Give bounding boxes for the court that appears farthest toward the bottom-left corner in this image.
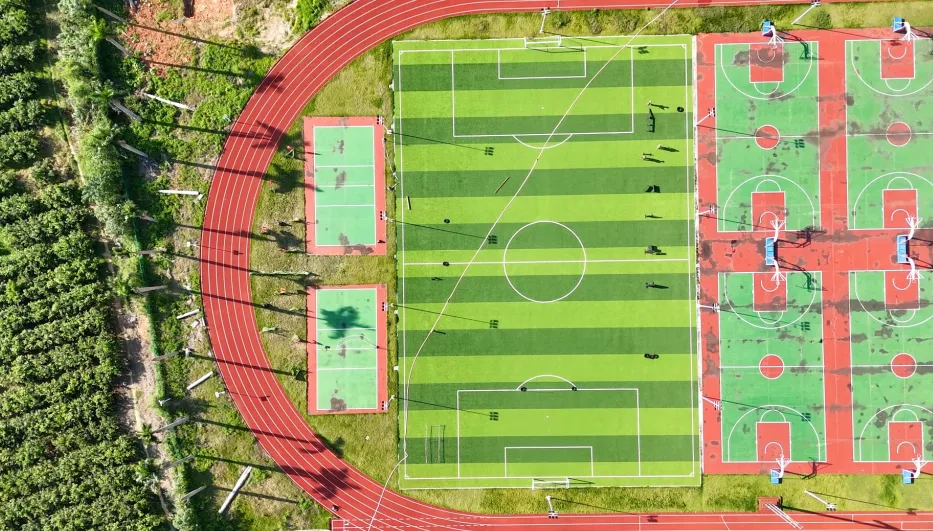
[308,286,386,414]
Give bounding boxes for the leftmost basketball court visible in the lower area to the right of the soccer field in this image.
[718,269,828,464]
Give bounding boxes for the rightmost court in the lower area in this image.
[846,267,933,463]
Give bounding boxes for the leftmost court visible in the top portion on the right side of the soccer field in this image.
[714,40,824,233]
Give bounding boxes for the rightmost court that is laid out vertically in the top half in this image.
[842,36,933,230]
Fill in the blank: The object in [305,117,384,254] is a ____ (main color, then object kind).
green sports court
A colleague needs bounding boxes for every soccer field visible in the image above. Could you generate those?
[394,35,701,488]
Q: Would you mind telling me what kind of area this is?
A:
sports ground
